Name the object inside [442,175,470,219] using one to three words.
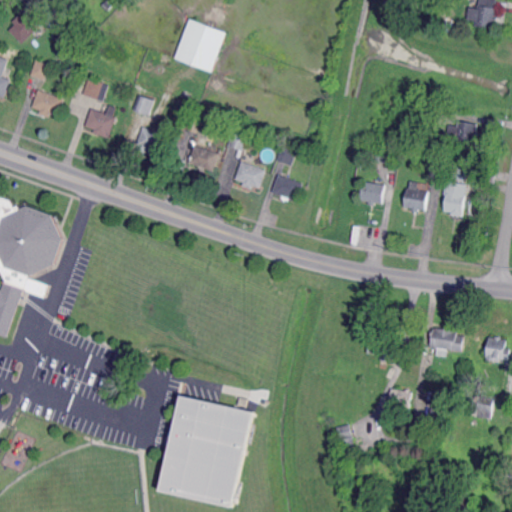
house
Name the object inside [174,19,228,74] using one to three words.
barn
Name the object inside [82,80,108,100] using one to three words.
building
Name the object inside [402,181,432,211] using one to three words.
house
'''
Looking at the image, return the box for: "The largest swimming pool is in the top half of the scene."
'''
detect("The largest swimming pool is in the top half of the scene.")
[260,148,276,164]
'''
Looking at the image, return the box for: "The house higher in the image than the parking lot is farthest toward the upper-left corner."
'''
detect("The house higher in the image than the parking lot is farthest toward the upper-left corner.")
[10,20,34,44]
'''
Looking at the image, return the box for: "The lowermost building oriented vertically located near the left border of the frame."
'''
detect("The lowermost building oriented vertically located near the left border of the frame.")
[0,198,62,338]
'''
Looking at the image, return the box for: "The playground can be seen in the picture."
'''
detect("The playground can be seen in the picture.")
[1,432,35,472]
